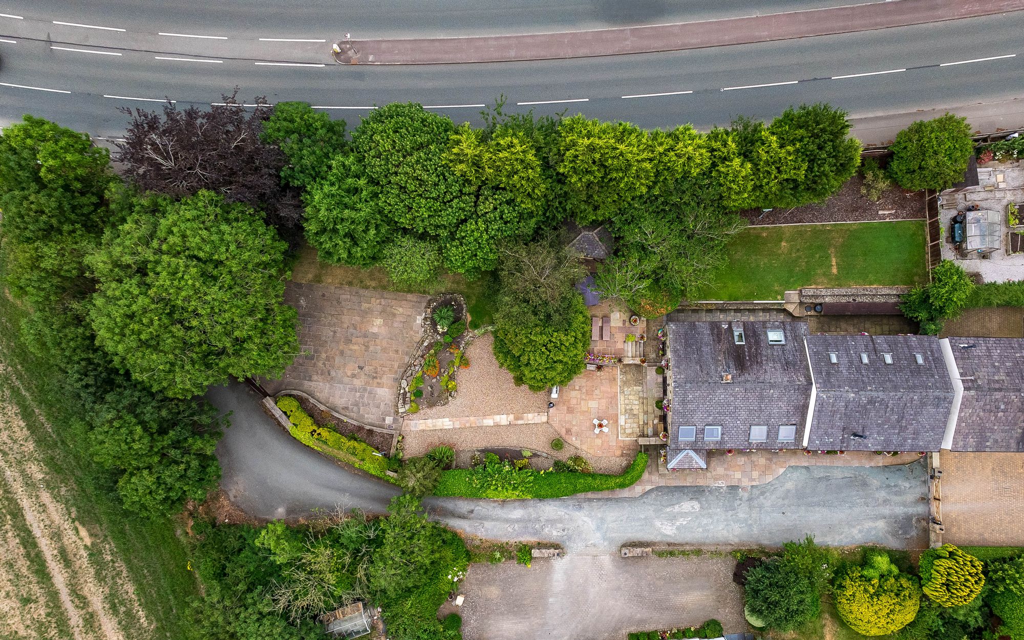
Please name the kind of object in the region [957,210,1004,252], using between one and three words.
greenhouse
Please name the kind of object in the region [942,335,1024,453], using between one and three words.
house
